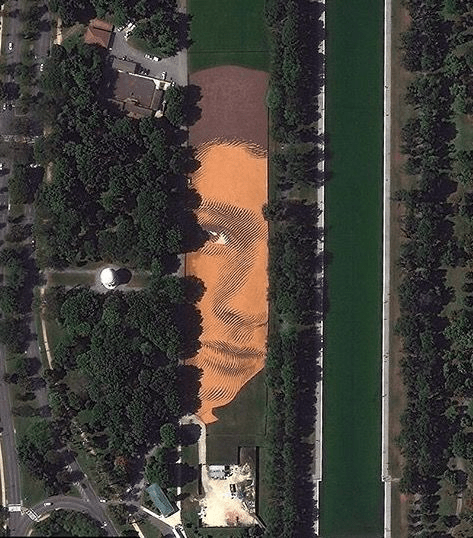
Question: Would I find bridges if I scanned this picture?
No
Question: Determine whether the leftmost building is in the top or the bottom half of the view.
top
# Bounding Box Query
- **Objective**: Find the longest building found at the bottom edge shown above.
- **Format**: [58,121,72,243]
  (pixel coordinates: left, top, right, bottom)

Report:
[146,484,174,518]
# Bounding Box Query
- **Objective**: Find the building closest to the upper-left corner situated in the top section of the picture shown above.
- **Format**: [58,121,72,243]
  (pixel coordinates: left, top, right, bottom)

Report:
[85,19,115,49]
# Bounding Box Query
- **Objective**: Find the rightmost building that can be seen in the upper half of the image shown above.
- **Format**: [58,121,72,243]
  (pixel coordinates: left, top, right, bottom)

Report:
[108,61,172,119]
